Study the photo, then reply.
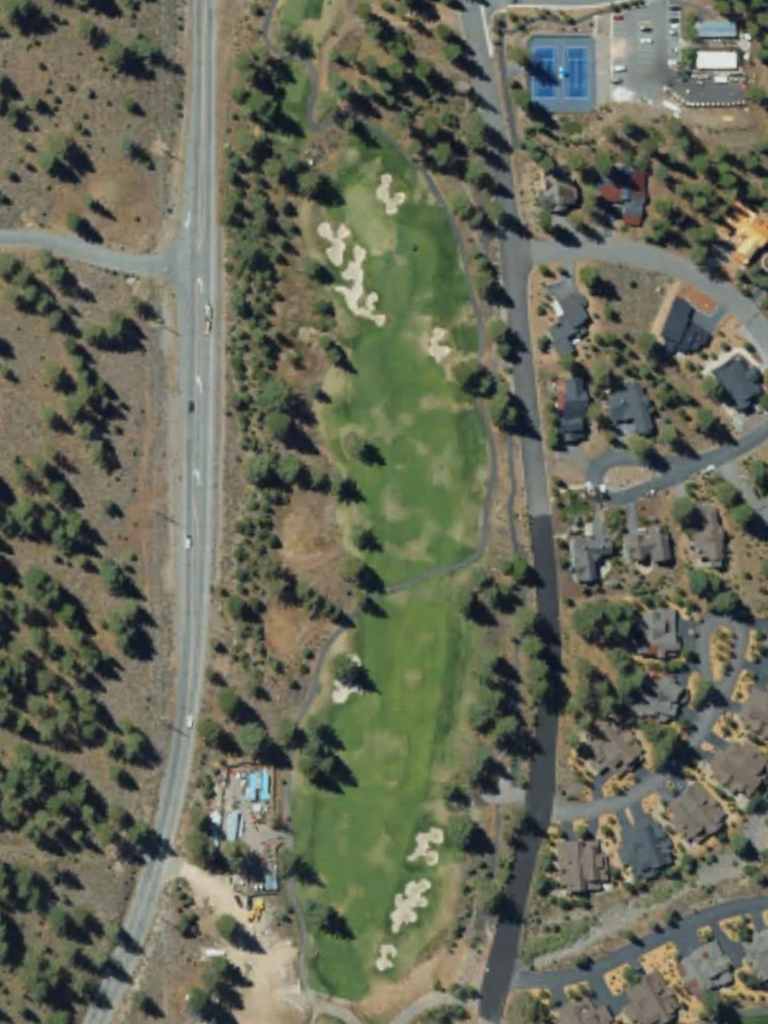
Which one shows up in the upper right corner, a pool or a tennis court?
tennis court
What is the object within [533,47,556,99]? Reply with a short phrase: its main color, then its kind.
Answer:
blue tennis court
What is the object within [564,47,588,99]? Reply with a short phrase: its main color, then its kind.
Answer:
blue tennis court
